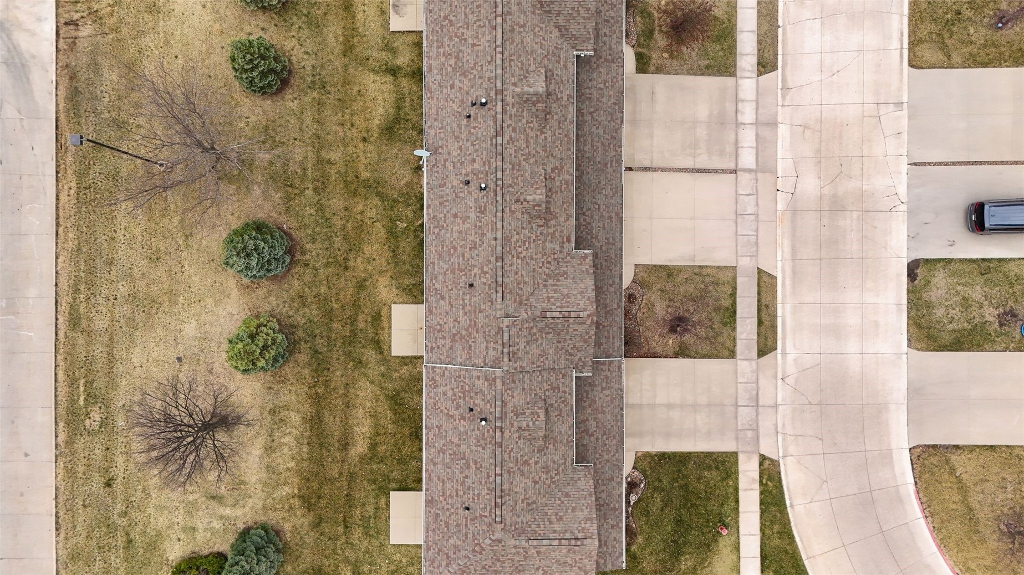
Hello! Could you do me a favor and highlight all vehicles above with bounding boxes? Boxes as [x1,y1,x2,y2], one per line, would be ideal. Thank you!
[965,197,1024,235]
